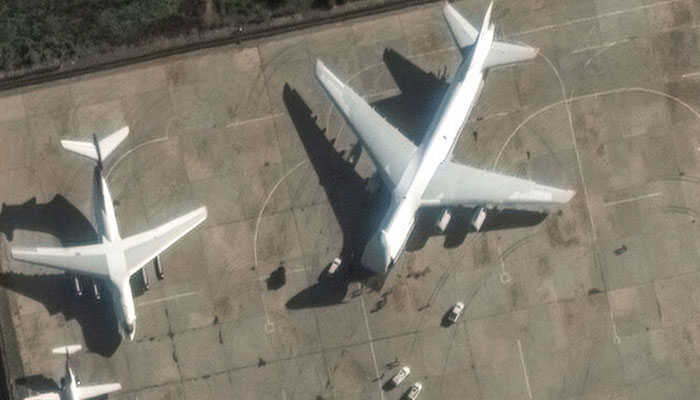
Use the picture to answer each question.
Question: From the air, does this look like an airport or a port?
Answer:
airport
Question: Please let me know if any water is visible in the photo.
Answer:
No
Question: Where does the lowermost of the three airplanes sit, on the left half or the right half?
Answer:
left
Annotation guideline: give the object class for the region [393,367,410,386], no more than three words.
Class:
car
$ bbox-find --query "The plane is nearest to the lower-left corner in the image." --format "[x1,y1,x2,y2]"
[22,347,120,400]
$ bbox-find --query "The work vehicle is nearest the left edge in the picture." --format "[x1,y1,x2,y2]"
[275,269,288,287]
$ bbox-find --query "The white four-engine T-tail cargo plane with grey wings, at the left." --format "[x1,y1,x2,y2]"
[11,126,206,338]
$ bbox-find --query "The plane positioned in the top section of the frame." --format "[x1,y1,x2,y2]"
[312,0,574,295]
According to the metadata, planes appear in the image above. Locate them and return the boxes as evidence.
[11,126,206,338]
[312,0,574,295]
[22,347,120,400]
